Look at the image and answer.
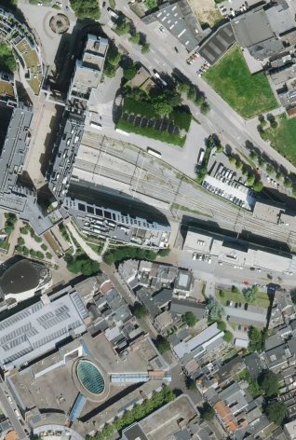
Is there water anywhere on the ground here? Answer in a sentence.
No, no water is visible.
